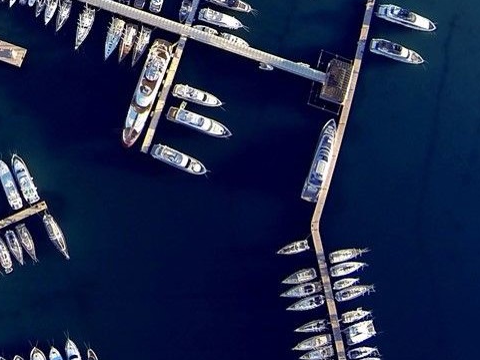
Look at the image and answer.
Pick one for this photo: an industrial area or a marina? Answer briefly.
marina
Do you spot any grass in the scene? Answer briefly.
No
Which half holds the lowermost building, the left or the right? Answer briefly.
right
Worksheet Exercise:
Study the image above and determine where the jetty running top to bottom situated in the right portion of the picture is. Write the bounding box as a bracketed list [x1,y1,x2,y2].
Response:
[312,0,375,360]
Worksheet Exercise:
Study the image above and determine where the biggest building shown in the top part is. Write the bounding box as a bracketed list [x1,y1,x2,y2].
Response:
[317,59,353,106]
